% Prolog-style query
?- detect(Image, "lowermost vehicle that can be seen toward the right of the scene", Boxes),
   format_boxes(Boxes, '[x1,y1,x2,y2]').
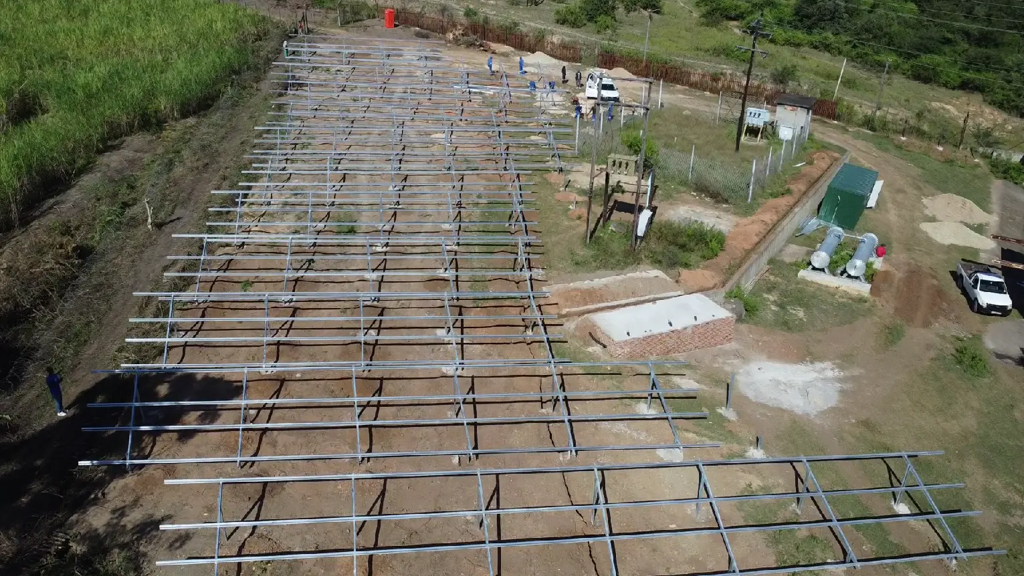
[958,267,1015,321]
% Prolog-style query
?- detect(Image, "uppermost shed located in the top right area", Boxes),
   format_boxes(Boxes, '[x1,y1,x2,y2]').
[777,101,818,143]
